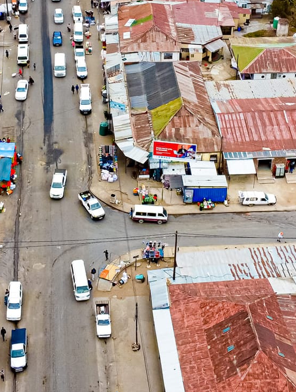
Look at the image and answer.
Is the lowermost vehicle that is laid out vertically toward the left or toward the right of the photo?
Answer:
left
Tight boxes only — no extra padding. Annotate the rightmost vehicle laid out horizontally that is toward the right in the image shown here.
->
[233,187,278,207]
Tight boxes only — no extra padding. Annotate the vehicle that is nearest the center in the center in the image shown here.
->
[129,203,169,224]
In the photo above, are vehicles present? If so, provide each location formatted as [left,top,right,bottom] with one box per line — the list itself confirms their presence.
[74,43,87,62]
[14,80,29,99]
[129,203,169,224]
[51,31,64,46]
[71,5,84,22]
[79,191,104,220]
[5,282,24,319]
[70,258,92,299]
[17,26,29,42]
[53,52,66,75]
[53,9,65,24]
[233,187,278,207]
[75,59,89,79]
[49,170,67,200]
[7,330,28,372]
[94,303,113,339]
[78,79,93,110]
[17,47,29,64]
[73,20,85,42]
[18,0,28,10]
